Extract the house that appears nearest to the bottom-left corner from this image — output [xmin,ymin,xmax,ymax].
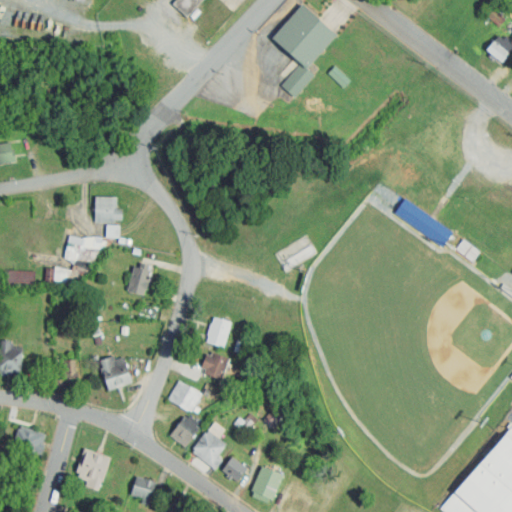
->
[14,426,48,454]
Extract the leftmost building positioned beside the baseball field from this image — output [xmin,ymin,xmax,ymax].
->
[276,236,316,270]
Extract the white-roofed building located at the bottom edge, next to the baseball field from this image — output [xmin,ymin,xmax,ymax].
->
[439,423,512,512]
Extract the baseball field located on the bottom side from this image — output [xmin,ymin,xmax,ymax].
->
[302,190,512,476]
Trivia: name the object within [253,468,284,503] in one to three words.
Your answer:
house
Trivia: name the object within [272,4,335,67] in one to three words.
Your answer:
barn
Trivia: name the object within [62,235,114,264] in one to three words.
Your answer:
barn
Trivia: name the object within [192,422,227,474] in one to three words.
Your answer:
house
